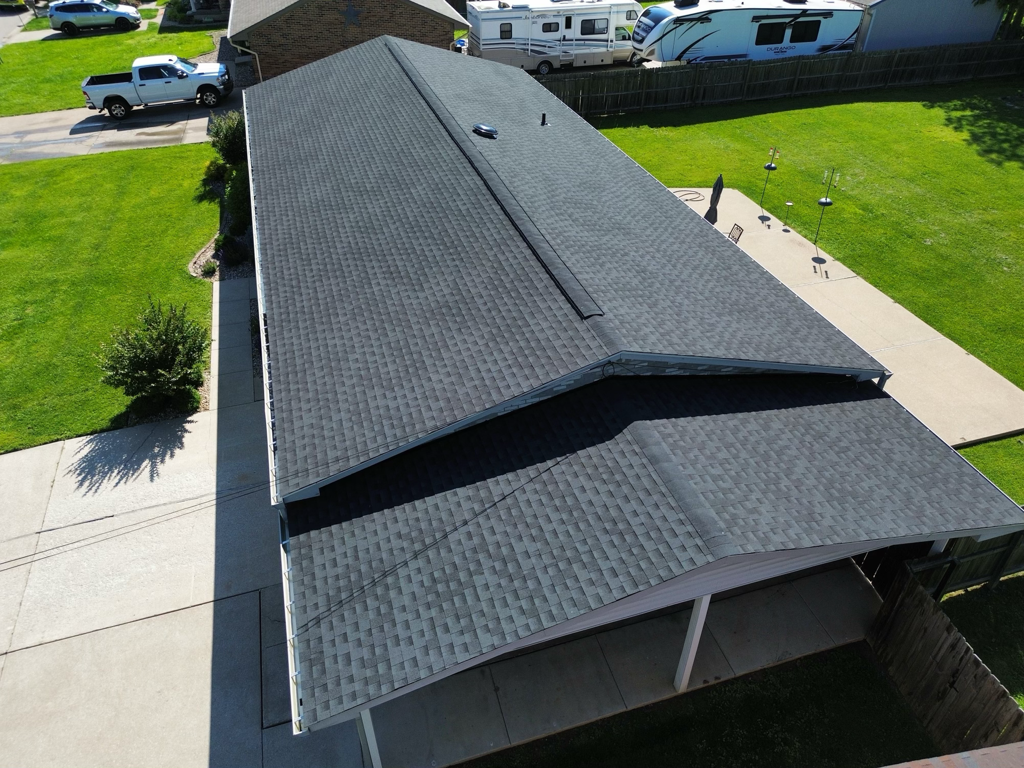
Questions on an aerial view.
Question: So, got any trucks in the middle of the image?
No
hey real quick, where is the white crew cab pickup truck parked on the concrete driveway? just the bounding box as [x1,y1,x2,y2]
[80,53,236,117]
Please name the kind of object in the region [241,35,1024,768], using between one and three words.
house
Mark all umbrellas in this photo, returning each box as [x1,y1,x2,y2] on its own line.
[704,173,722,227]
